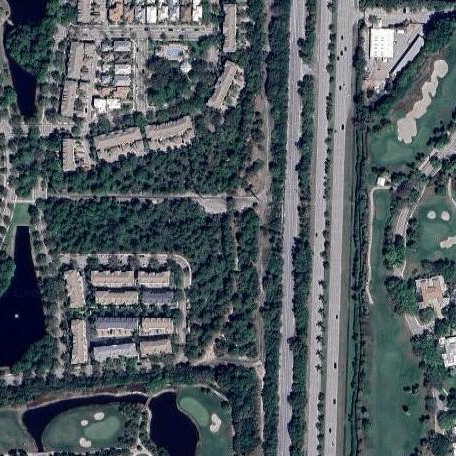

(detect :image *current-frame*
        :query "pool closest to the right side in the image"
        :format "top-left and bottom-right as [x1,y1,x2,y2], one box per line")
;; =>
[157,43,188,60]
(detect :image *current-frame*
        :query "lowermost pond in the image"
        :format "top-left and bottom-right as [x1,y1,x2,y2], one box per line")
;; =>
[0,225,46,366]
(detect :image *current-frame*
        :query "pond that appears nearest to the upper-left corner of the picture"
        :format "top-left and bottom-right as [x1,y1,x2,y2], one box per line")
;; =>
[4,0,48,117]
